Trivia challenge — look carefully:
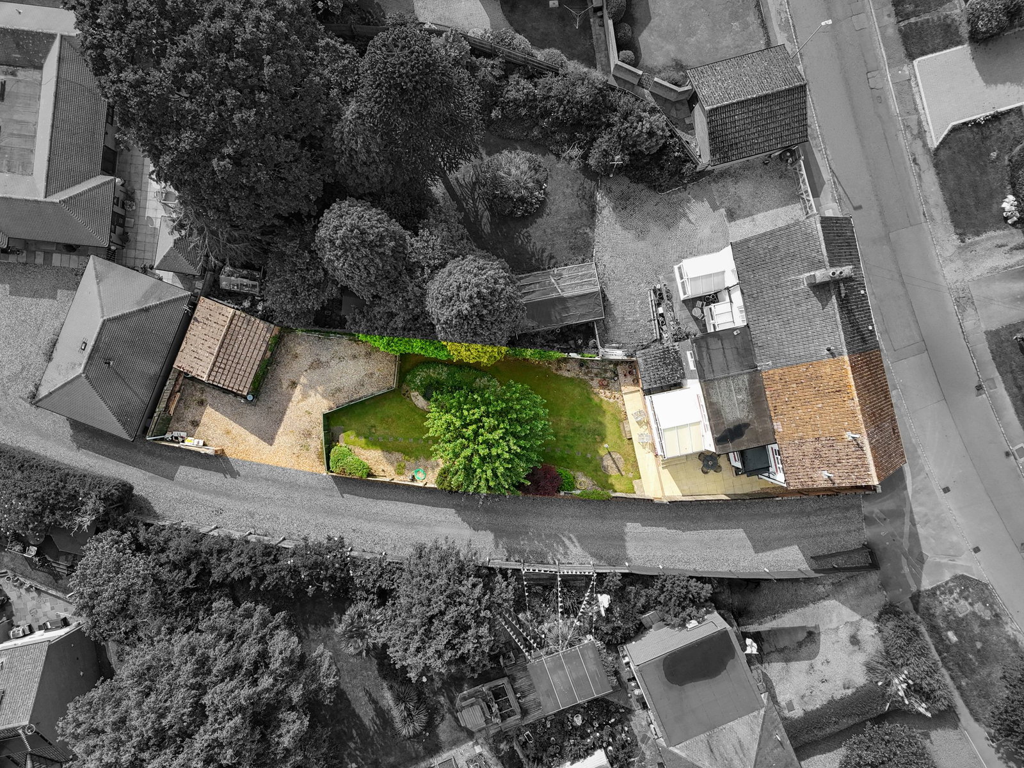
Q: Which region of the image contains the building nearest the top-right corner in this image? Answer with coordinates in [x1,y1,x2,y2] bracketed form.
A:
[683,44,809,174]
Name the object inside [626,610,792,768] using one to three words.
house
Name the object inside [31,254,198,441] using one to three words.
building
